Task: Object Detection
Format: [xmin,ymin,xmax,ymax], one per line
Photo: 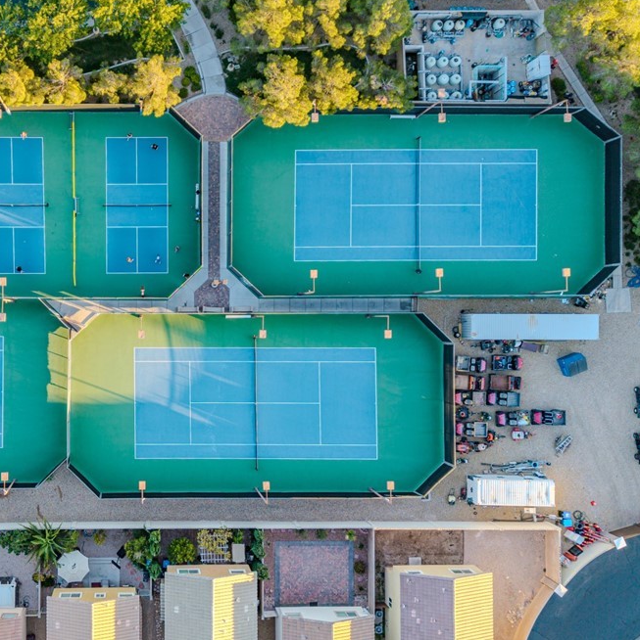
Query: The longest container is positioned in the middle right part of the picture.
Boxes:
[460,314,599,340]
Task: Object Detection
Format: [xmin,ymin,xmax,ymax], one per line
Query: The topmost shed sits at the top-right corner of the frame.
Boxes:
[518,53,554,85]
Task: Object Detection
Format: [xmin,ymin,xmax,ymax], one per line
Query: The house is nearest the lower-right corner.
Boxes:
[390,568,496,640]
